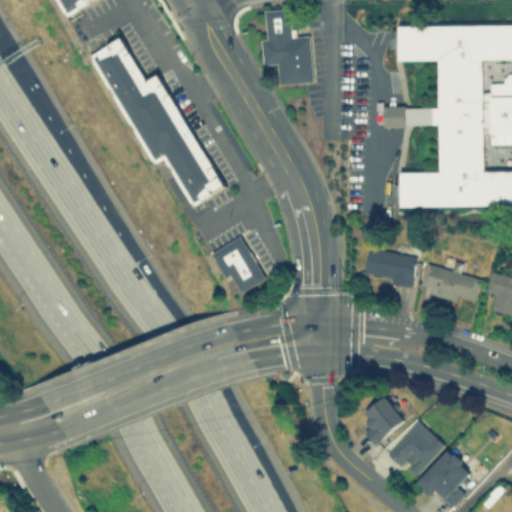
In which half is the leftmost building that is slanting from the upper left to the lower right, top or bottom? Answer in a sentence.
The top half of the photo is where the leftmost building that is slanting from the upper left to the lower right is.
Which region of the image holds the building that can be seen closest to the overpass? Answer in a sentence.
The building that can be seen closest to the overpass appears toward the center of the photo.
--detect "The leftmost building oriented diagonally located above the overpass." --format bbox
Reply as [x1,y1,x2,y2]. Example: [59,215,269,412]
[92,38,223,208]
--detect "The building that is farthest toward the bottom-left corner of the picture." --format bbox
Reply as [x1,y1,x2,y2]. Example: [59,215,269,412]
[214,236,266,292]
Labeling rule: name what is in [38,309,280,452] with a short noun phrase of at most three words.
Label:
overpass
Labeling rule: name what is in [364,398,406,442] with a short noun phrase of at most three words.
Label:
house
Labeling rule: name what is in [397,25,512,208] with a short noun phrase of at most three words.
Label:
building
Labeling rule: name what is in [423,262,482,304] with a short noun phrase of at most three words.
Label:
house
